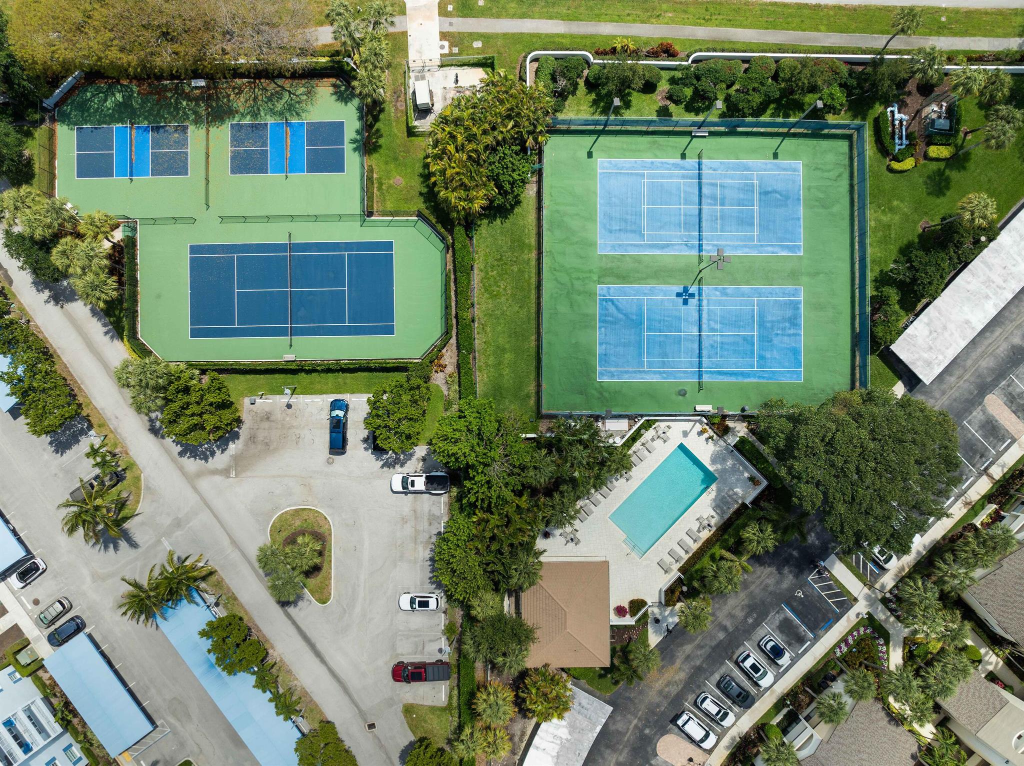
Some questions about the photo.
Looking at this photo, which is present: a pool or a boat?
pool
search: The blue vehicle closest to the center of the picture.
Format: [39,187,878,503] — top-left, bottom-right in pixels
[327,399,349,452]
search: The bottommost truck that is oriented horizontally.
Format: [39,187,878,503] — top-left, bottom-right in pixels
[394,660,450,684]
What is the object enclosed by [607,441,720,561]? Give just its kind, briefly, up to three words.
swimming pool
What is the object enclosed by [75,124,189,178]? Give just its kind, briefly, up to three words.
sports court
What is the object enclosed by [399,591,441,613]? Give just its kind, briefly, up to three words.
car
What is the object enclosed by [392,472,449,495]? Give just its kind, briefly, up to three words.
truck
